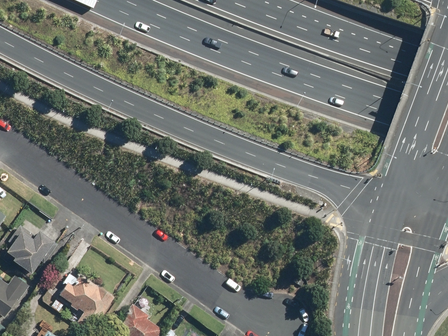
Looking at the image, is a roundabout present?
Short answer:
No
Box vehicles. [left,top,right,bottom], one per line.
[224,278,239,290]
[204,38,220,49]
[76,0,96,8]
[329,30,340,38]
[135,22,150,32]
[282,66,298,77]
[160,270,174,282]
[262,292,274,298]
[172,315,184,329]
[36,184,50,196]
[154,229,168,240]
[0,189,6,198]
[244,330,256,336]
[214,306,228,318]
[298,308,309,322]
[296,323,308,336]
[105,232,120,243]
[0,119,10,130]
[329,96,344,106]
